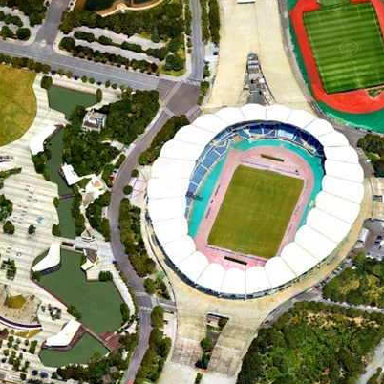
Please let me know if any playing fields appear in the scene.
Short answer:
Yes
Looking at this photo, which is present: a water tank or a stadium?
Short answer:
stadium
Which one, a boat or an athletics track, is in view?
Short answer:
athletics track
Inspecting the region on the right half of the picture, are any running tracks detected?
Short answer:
Yes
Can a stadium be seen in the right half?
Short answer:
Yes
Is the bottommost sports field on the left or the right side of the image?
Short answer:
right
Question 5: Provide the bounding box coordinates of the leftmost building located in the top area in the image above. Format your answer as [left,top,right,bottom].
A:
[30,124,63,155]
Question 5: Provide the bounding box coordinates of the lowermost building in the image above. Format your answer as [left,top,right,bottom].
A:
[41,319,85,351]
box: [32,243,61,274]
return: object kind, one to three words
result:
building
